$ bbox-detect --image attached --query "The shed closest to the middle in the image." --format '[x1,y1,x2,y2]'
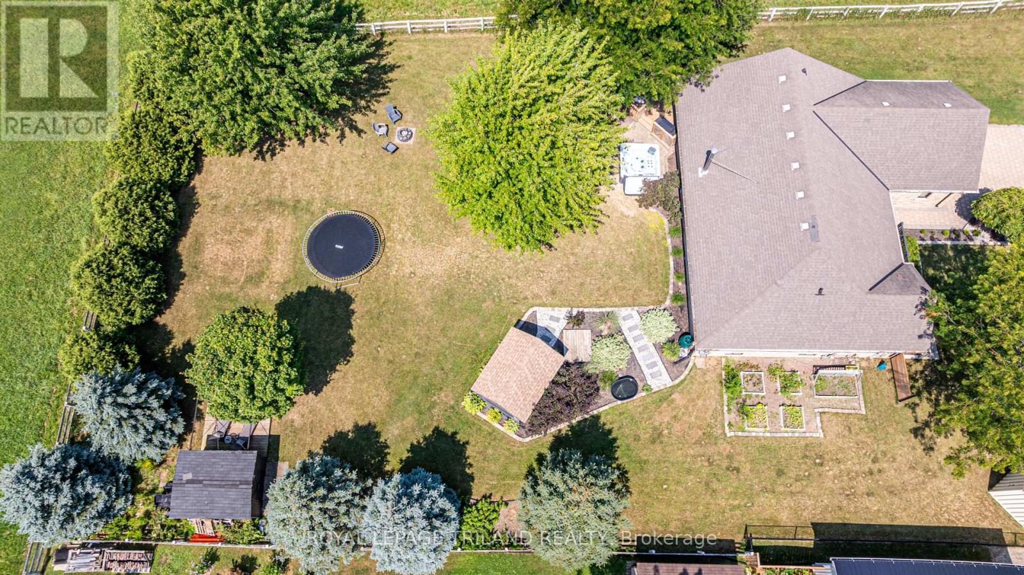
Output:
[471,327,564,423]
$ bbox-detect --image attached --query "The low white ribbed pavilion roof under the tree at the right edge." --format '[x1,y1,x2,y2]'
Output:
[985,461,1024,536]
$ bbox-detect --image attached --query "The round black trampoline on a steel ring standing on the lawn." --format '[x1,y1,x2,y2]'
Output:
[303,210,383,288]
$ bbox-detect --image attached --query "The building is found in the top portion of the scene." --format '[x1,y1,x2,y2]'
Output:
[671,47,992,358]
